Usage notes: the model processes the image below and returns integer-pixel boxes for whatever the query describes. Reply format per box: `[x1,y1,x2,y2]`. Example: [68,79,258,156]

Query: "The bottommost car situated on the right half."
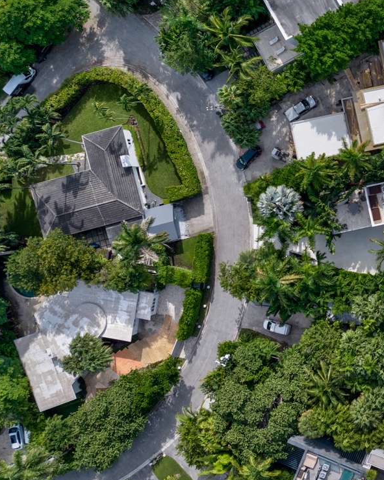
[263,317,294,336]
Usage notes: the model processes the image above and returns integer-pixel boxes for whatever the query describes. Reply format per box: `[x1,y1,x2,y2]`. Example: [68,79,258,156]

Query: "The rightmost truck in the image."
[283,94,320,122]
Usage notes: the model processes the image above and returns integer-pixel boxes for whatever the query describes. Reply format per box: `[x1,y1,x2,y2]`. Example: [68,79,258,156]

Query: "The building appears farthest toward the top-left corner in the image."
[29,125,152,249]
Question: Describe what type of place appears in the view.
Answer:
residential area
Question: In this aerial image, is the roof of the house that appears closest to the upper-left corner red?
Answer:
No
